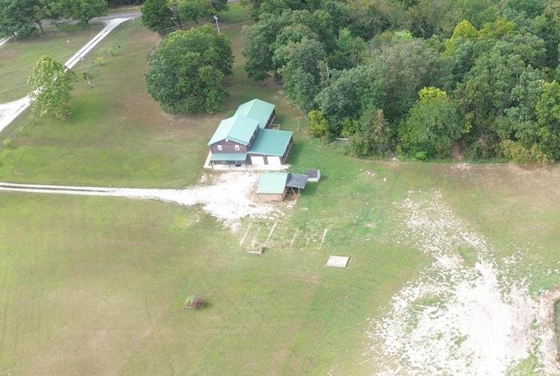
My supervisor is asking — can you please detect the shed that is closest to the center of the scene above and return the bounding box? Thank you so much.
[256,173,309,202]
